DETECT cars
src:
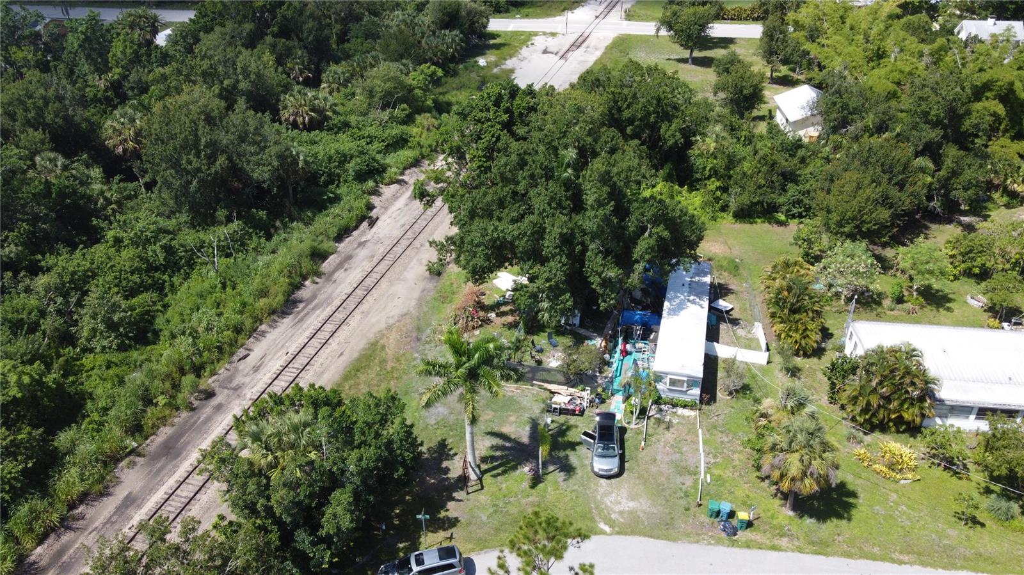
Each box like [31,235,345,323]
[577,405,623,476]
[371,543,462,575]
